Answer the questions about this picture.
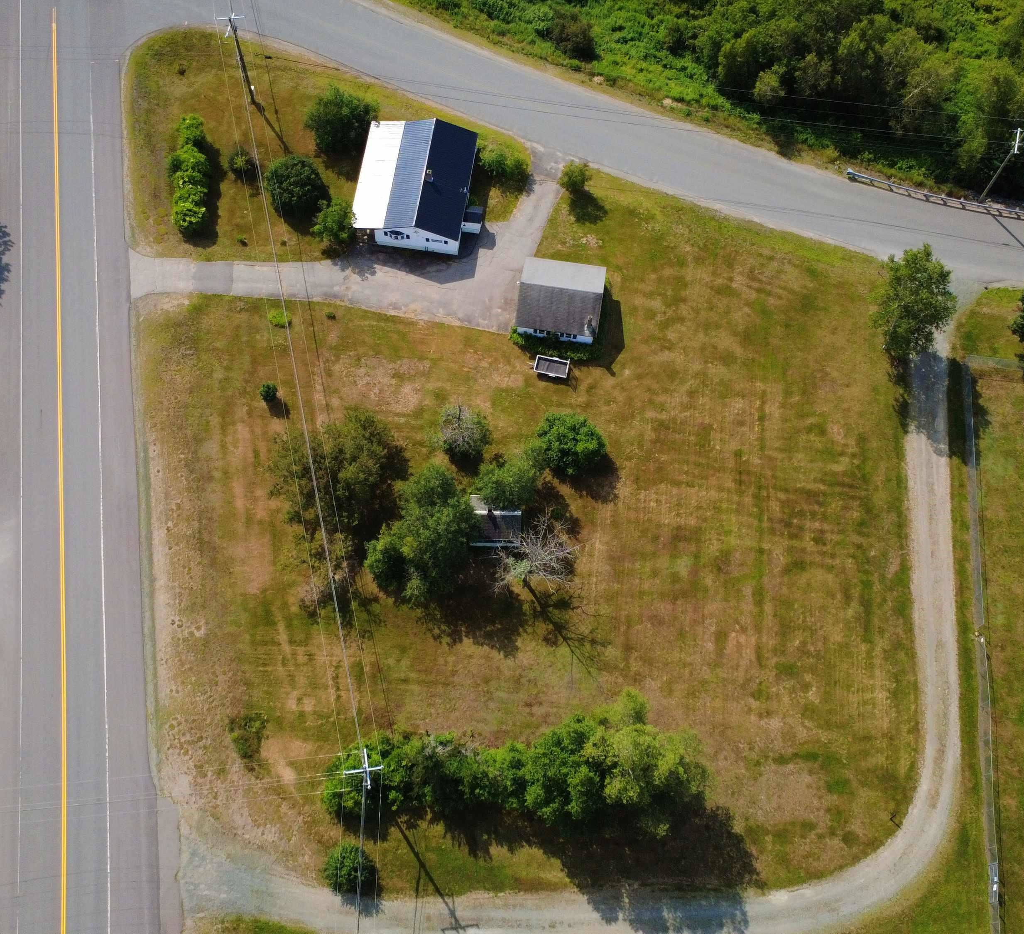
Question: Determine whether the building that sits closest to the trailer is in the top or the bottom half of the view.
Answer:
top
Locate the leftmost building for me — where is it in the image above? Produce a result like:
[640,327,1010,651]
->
[352,117,482,255]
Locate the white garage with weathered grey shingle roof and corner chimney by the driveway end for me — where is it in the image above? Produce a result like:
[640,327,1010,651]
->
[514,259,606,345]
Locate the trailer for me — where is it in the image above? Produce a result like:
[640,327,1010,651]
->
[525,355,571,382]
